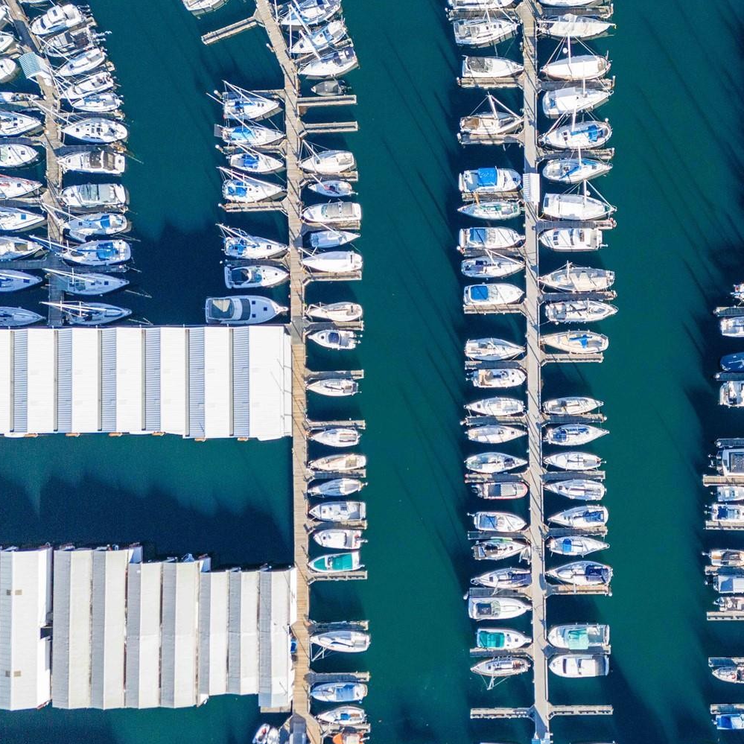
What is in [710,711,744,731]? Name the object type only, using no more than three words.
boat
